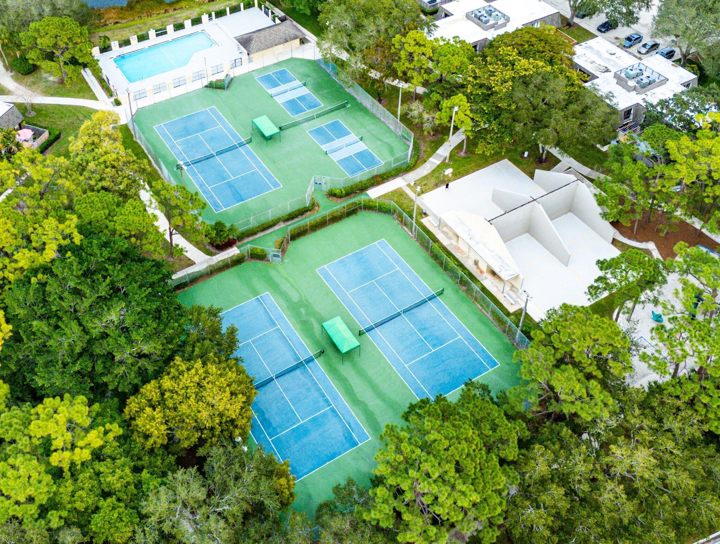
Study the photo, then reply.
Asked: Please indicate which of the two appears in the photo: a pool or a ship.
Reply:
pool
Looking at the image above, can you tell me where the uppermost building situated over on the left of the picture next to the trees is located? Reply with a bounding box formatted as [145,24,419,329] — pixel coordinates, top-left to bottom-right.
[232,20,308,63]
